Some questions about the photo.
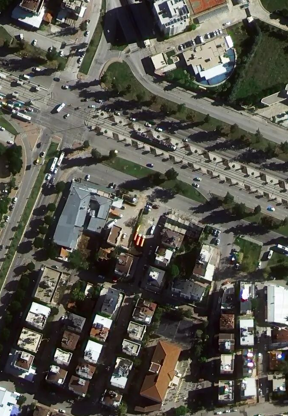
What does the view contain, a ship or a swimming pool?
swimming pool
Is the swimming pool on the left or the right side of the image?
right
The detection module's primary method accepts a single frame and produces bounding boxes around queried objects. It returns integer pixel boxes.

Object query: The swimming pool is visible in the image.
[197,47,237,83]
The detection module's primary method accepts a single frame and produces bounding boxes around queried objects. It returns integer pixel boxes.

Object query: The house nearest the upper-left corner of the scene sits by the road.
[12,0,45,29]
